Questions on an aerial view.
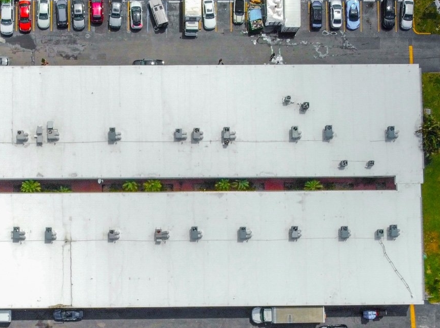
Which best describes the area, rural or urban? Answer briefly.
urban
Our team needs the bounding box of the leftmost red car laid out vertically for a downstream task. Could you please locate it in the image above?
[16,0,32,34]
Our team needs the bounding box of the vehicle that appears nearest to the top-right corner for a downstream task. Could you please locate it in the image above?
[398,0,415,31]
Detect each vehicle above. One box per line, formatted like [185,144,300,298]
[89,0,105,25]
[328,0,344,30]
[54,0,69,29]
[0,55,10,67]
[72,0,86,32]
[398,0,415,31]
[149,0,169,30]
[379,0,397,31]
[0,0,15,37]
[16,0,32,34]
[248,306,325,325]
[36,0,51,31]
[0,310,13,324]
[53,309,84,322]
[129,2,143,31]
[182,0,202,41]
[133,58,164,66]
[309,1,322,31]
[109,0,122,31]
[202,0,216,31]
[344,0,361,31]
